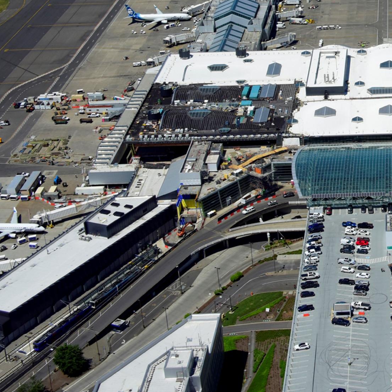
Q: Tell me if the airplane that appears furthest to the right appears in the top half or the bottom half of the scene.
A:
top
